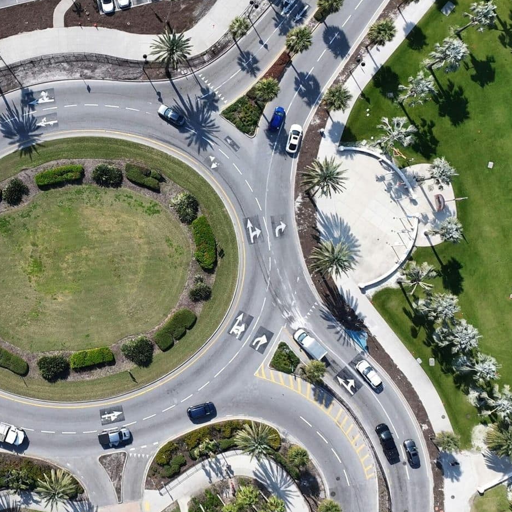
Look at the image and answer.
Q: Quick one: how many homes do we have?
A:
0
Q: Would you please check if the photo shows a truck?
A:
Yes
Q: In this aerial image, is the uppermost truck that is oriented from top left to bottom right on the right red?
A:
No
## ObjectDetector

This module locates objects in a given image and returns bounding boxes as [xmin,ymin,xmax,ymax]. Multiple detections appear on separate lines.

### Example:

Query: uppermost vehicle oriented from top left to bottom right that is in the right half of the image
[293,327,331,365]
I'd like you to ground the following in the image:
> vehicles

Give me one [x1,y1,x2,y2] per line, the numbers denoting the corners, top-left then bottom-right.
[99,0,114,16]
[185,403,216,420]
[284,123,302,155]
[356,359,382,390]
[375,424,397,464]
[157,104,187,127]
[293,327,331,365]
[268,106,283,133]
[0,420,28,444]
[401,436,420,469]
[117,0,129,10]
[98,429,131,445]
